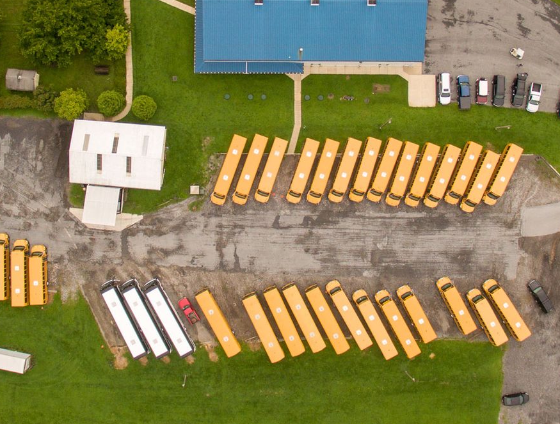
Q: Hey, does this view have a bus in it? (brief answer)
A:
Yes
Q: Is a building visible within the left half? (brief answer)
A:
Yes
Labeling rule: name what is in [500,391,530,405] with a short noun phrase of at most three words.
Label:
vehicle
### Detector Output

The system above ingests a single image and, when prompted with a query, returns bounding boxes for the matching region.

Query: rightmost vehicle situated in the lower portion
[527,278,554,315]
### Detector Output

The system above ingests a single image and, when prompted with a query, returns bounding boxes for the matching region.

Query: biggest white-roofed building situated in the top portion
[70,120,165,190]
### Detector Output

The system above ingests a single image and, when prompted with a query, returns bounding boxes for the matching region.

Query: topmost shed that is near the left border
[6,70,39,91]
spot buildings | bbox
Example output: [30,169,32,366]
[191,0,428,76]
[70,120,165,190]
[6,70,39,91]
